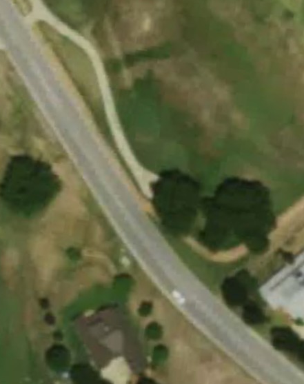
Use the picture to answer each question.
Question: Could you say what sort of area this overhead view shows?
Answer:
golf course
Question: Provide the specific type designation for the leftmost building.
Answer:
residential house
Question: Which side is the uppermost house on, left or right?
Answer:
right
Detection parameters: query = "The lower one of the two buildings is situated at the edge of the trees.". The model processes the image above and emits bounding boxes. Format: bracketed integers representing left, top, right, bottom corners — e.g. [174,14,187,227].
[77,297,151,374]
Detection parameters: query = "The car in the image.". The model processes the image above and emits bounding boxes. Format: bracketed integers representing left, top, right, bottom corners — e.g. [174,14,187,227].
[171,289,185,304]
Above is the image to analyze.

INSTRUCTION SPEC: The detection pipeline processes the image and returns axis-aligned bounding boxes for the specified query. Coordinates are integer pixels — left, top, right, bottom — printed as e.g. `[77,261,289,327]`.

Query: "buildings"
[258,248,304,319]
[77,297,151,374]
